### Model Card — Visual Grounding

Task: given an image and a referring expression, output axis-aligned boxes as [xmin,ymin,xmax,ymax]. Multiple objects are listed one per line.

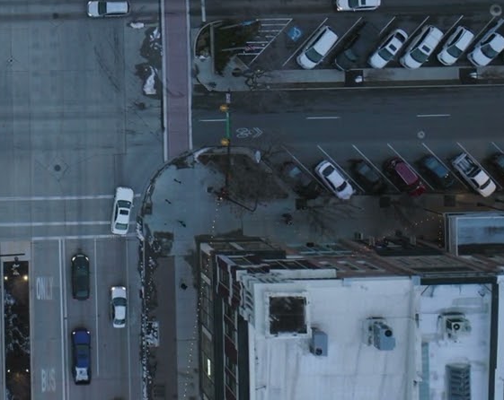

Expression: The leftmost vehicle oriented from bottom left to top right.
[297,26,340,68]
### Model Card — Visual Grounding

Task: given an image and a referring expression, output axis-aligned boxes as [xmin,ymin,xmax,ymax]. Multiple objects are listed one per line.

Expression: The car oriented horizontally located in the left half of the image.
[88,0,128,19]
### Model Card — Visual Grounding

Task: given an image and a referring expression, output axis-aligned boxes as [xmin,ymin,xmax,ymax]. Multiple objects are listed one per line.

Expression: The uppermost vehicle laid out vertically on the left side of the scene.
[111,187,135,235]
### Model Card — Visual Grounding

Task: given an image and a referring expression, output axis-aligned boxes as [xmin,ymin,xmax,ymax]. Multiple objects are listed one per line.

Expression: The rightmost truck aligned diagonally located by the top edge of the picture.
[467,18,504,67]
